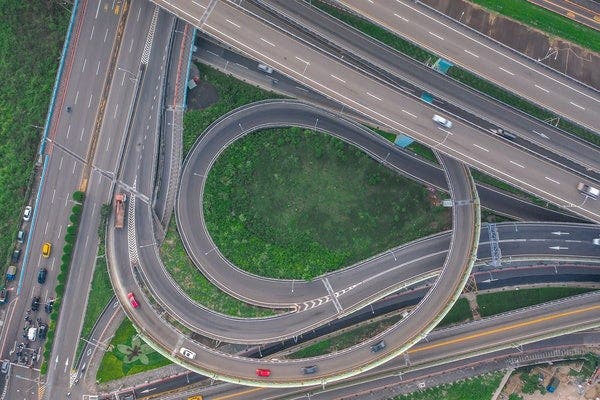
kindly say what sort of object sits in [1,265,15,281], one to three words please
vehicle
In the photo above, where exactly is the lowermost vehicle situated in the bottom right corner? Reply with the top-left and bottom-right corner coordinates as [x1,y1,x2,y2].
[547,377,564,398]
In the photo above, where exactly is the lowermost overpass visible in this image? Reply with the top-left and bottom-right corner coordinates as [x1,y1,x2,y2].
[156,289,600,400]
